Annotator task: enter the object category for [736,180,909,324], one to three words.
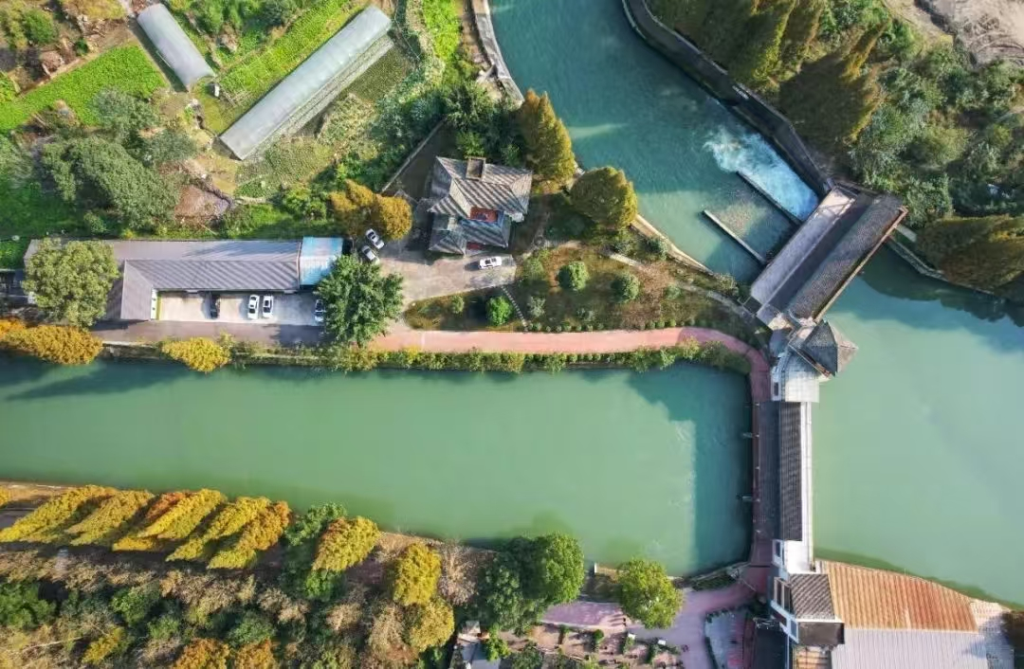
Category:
building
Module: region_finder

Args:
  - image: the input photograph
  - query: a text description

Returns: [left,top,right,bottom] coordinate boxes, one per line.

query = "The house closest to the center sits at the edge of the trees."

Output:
[428,156,532,255]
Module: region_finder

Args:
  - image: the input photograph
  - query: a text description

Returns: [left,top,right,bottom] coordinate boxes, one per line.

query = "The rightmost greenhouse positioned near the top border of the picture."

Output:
[220,2,388,158]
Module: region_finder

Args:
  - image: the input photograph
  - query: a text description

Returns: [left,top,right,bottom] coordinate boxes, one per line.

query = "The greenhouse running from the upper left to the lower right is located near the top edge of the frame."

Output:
[138,0,211,86]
